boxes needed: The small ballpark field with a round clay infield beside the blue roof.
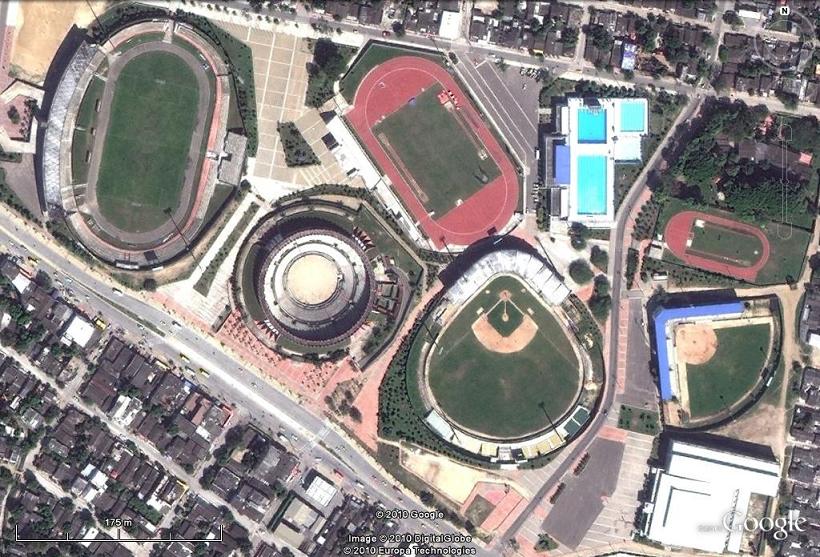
[676,317,774,421]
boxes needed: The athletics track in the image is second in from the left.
[344,58,517,251]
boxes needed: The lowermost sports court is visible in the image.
[461,483,528,534]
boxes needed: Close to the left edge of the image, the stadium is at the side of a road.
[39,15,231,271]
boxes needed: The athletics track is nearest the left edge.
[73,33,214,248]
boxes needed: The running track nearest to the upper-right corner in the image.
[665,211,769,279]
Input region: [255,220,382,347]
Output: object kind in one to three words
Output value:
stadium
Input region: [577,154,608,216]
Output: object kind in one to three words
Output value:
swimming pool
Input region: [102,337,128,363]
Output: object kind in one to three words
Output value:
house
